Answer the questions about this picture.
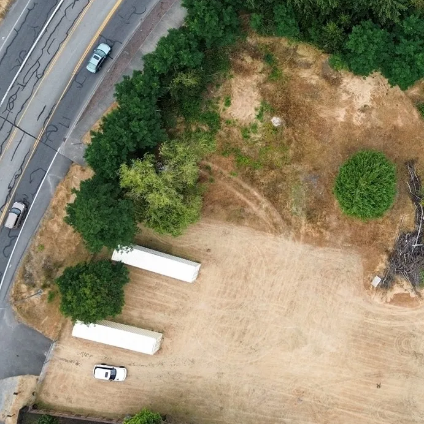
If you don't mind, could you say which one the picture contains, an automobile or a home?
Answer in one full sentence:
There is an automobile in the scene.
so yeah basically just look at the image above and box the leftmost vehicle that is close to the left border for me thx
[3,201,27,230]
